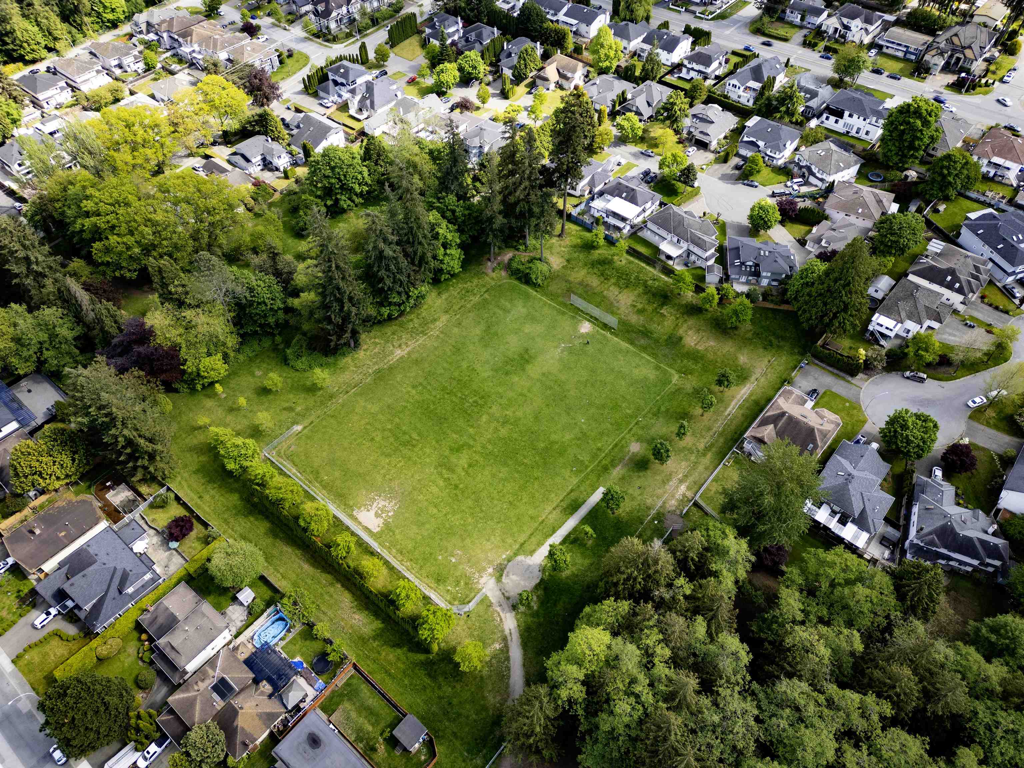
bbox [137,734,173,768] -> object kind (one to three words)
truck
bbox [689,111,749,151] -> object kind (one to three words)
house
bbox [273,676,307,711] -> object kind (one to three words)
gazebo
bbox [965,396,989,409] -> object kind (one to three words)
vehicle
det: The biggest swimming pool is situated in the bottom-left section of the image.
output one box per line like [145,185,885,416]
[252,610,290,648]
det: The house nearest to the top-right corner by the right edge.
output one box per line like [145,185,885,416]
[971,2,1008,28]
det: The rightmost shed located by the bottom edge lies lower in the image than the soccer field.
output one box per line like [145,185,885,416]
[392,714,427,753]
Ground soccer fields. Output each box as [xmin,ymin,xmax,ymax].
[277,280,677,604]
